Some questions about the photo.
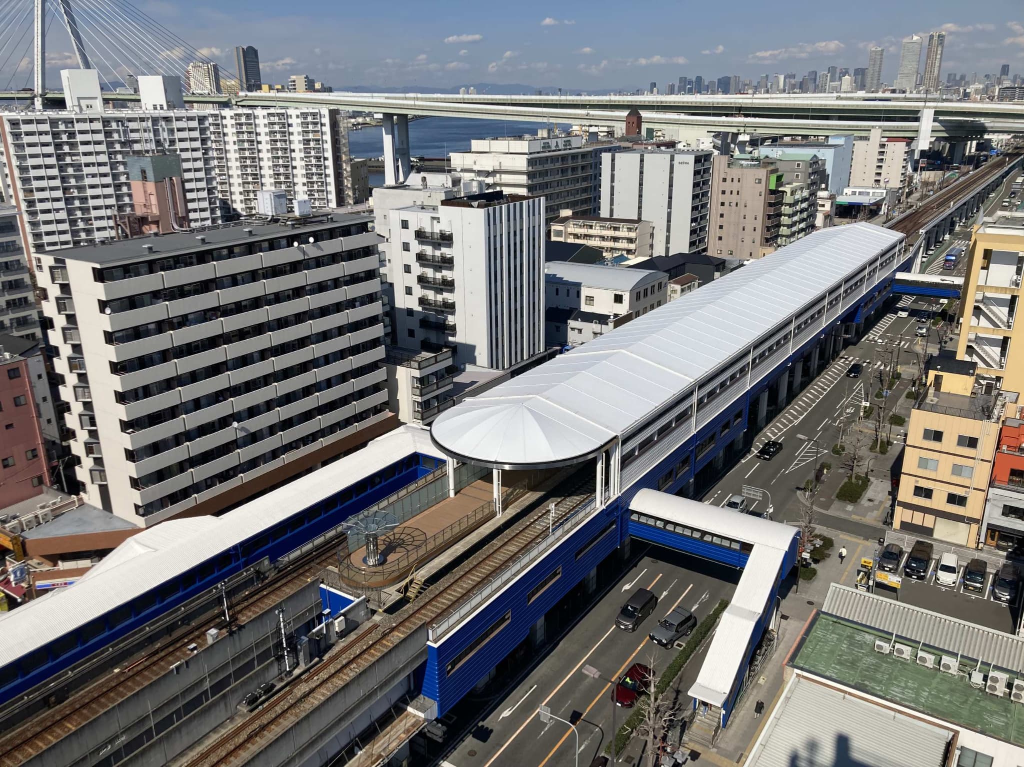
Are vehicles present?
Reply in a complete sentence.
Yes, the photo shows a vehicle.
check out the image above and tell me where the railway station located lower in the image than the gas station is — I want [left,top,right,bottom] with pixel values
[284,223,908,758]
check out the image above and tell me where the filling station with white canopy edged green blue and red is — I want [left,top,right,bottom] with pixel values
[847,186,893,216]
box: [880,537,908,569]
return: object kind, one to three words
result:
car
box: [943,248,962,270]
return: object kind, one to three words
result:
vehicle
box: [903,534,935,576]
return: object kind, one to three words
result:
vehicle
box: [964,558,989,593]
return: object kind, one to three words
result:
car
